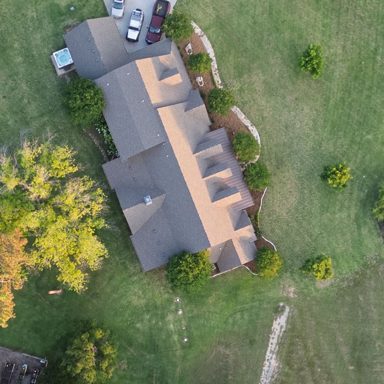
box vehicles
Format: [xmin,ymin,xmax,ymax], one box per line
[147,0,170,44]
[110,0,125,18]
[126,7,143,41]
